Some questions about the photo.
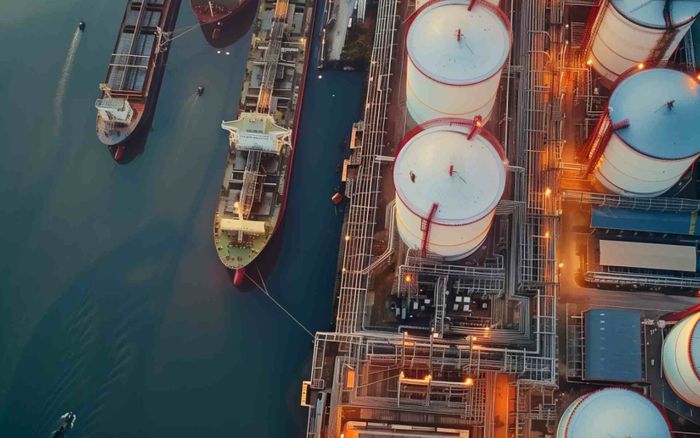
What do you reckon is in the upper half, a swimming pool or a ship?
ship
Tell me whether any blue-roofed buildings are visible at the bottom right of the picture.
Yes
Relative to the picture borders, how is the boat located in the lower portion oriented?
diagonally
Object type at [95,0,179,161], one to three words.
ship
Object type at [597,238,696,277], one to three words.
building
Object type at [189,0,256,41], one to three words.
ship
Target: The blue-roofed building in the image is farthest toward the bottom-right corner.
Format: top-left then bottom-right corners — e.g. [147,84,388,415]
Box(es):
[580,311,643,385]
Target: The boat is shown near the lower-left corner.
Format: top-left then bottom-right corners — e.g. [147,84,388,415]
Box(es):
[53,411,73,433]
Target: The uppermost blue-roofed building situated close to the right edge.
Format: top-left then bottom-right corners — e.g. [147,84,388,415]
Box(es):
[588,206,700,245]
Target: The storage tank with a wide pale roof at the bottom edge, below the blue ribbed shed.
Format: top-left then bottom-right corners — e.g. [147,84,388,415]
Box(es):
[550,385,675,438]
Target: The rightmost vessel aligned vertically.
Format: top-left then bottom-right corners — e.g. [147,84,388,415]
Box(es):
[213,0,319,287]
